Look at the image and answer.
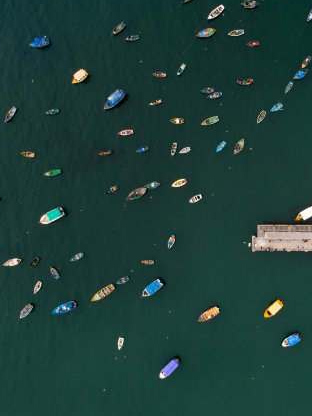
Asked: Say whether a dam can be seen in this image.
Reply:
No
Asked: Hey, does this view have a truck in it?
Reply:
No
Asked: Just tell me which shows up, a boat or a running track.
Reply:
boat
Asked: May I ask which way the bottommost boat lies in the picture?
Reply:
diagonally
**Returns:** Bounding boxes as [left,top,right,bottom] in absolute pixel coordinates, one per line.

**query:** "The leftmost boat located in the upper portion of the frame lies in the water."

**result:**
[3,105,18,122]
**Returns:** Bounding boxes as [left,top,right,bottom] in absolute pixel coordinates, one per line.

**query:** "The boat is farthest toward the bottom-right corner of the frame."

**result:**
[282,334,302,348]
